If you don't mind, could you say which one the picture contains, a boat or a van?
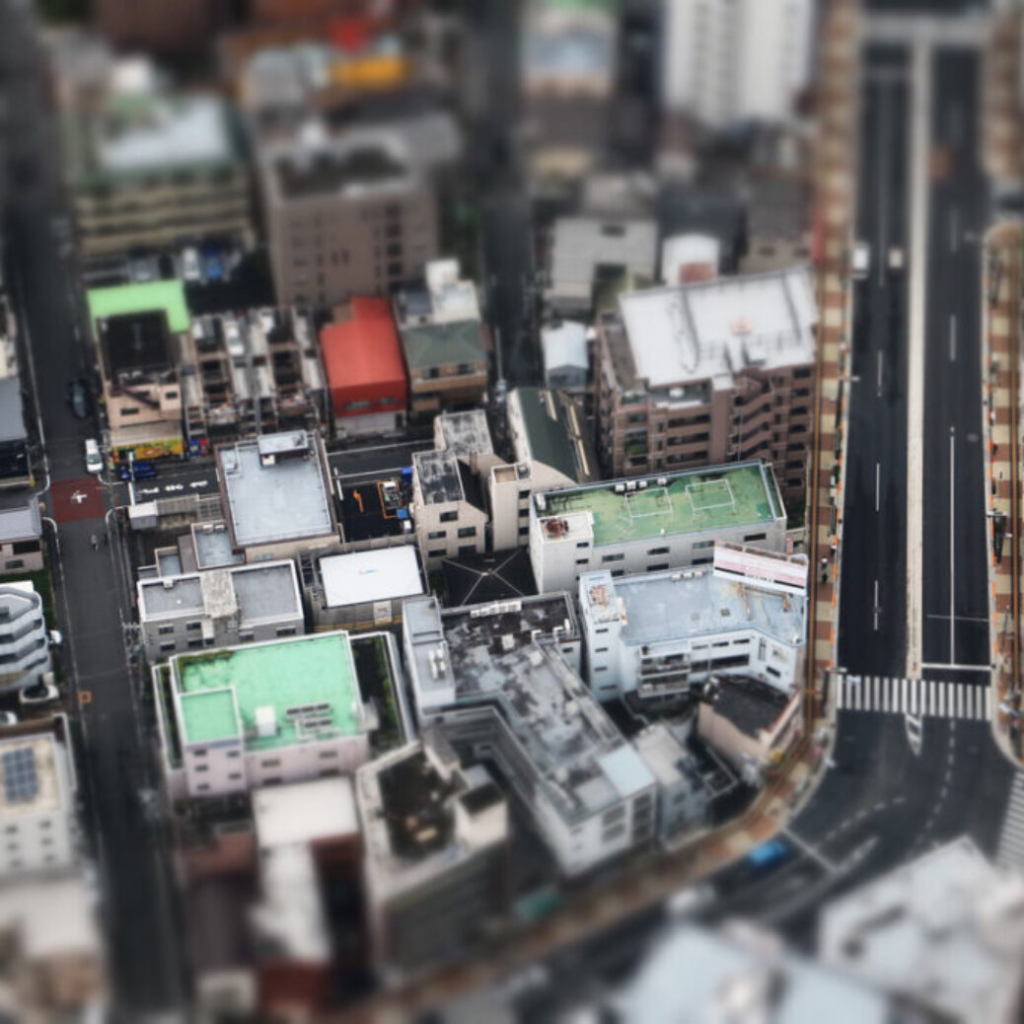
van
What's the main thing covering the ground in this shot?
buildings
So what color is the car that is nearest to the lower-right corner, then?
blue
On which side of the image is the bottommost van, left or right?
right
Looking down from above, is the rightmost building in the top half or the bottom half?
bottom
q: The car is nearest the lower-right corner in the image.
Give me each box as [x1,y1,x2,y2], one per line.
[743,840,787,872]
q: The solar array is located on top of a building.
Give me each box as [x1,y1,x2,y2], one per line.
[2,749,38,804]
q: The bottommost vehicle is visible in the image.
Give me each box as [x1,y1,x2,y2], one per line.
[664,884,716,921]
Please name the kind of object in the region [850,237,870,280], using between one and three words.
vehicle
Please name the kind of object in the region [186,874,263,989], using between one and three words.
house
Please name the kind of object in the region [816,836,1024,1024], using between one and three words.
building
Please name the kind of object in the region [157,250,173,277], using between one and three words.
car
